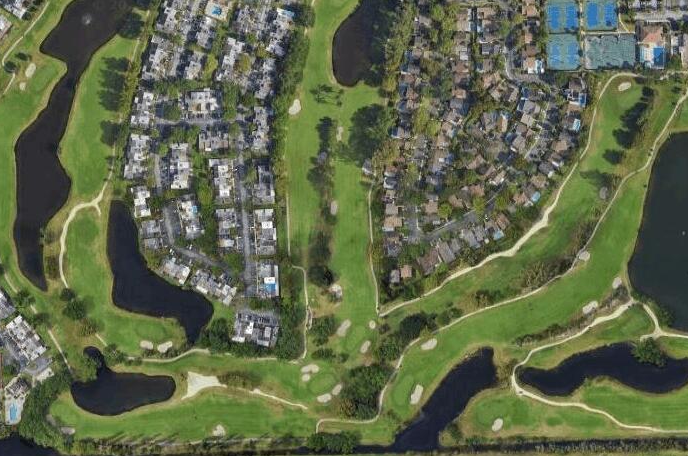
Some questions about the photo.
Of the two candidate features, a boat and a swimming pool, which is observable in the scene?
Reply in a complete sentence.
The one in the frame is a swimming pool.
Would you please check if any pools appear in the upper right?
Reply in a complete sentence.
Yes, the scene does show a pool in the upper right.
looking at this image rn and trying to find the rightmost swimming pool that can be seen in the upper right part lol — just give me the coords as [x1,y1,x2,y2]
[640,44,666,68]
